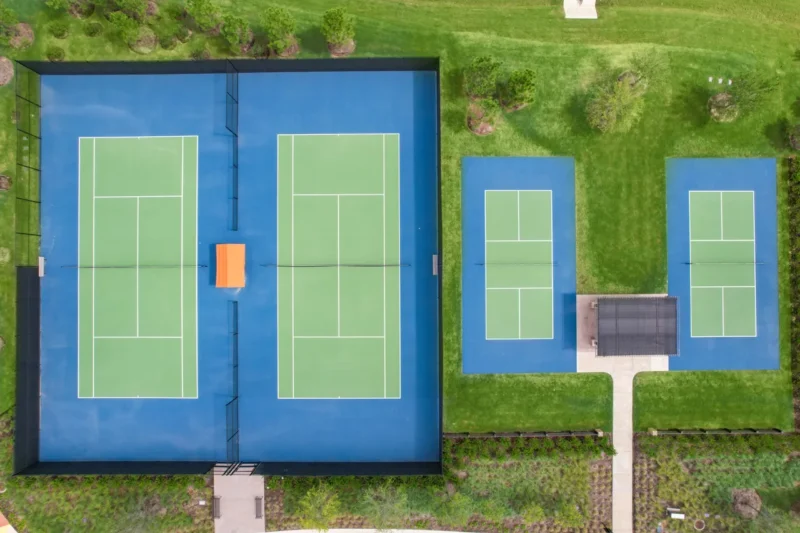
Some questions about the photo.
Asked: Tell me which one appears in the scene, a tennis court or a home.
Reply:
tennis court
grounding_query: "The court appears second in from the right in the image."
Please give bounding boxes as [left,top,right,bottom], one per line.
[462,157,577,374]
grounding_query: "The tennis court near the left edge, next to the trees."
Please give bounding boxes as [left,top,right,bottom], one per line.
[39,72,238,462]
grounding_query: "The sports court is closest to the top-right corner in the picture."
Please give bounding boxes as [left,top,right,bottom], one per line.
[666,158,780,371]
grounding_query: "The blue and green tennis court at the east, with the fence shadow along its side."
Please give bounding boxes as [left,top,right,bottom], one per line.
[238,70,439,462]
